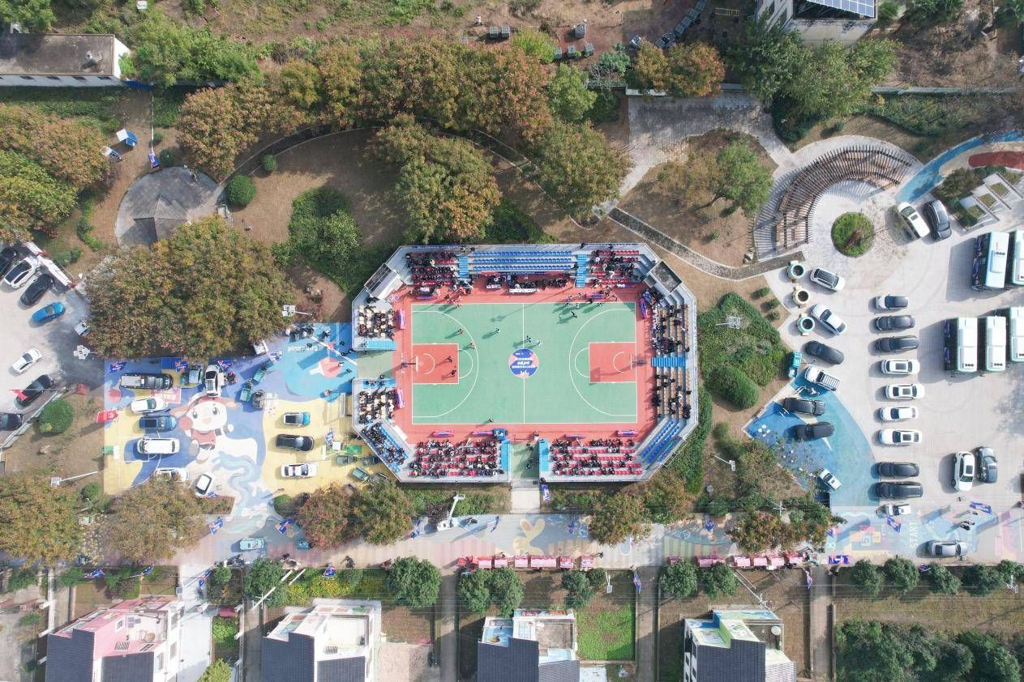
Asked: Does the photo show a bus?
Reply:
Yes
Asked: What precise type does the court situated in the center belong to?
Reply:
basketball court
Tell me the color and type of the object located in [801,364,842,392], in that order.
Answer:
white truck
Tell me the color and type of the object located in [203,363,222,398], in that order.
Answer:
white car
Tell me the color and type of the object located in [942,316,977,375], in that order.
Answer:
white bus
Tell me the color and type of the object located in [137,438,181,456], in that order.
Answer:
white vehicle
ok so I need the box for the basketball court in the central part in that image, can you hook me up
[358,272,653,480]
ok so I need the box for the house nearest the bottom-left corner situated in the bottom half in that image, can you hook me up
[49,593,178,682]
